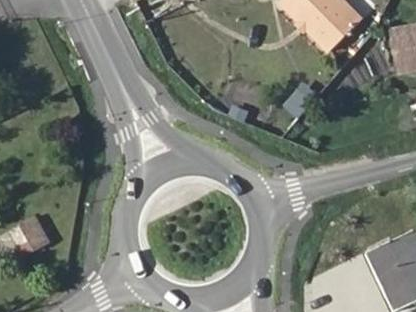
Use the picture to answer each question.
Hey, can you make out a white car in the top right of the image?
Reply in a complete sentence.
No, no white car appears in the top right of the image.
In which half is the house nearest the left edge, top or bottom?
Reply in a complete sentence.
The house nearest the left edge is in the bottom half of the image.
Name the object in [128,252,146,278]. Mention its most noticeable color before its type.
white vehicle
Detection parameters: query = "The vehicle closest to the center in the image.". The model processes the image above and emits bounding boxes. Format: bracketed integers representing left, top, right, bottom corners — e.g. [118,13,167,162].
[226,176,244,196]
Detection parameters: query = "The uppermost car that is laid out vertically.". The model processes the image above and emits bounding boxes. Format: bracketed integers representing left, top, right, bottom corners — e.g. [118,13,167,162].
[251,25,264,48]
